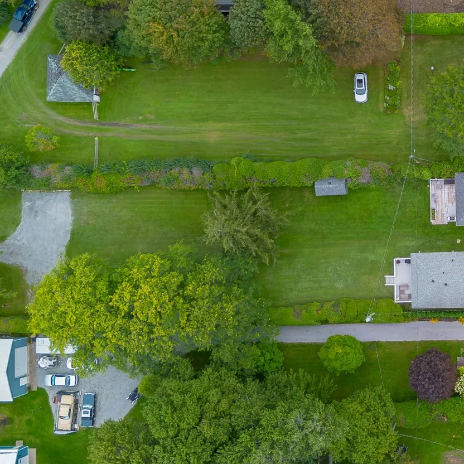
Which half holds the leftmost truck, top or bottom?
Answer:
top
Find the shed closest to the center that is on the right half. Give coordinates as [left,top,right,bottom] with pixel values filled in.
[313,180,350,196]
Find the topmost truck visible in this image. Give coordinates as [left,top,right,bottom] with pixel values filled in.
[5,0,37,35]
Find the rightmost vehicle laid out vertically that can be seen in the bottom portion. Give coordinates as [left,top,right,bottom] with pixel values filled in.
[77,392,96,428]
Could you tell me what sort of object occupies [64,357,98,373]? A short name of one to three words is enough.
car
